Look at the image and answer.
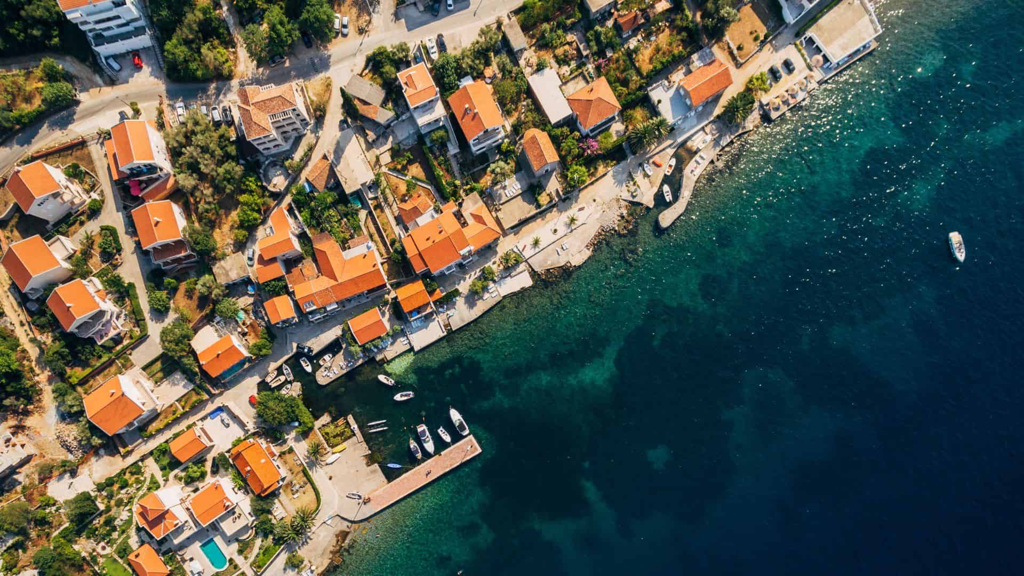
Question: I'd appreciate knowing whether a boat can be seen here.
Yes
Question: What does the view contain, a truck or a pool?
pool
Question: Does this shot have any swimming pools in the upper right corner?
No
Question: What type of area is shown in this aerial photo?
residential area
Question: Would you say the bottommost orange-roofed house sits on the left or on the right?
left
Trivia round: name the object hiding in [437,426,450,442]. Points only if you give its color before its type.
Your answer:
white boat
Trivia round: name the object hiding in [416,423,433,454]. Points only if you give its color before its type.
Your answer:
white boat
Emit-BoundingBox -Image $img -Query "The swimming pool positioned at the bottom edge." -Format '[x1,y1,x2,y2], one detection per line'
[196,535,228,572]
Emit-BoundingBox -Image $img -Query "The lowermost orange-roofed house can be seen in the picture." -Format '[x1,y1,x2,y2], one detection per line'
[127,542,175,576]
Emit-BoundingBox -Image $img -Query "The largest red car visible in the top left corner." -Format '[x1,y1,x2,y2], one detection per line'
[131,52,144,69]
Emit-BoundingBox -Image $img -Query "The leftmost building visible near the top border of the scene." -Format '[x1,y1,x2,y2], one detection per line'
[59,0,159,56]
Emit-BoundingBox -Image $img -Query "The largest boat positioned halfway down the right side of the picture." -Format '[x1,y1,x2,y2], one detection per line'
[948,231,966,262]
